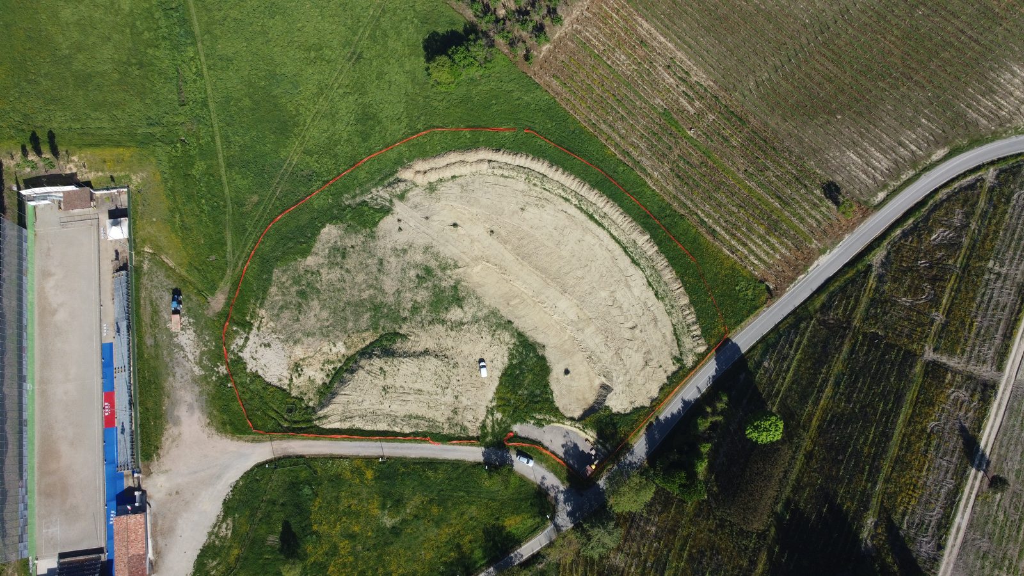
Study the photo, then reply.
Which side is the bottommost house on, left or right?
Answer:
left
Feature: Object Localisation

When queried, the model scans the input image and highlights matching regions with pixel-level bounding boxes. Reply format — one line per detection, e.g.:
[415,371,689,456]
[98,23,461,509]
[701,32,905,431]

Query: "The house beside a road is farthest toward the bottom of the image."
[110,510,157,576]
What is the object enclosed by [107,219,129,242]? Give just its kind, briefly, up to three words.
tent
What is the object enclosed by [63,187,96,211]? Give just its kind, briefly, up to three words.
shed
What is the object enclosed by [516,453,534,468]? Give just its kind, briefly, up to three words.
car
